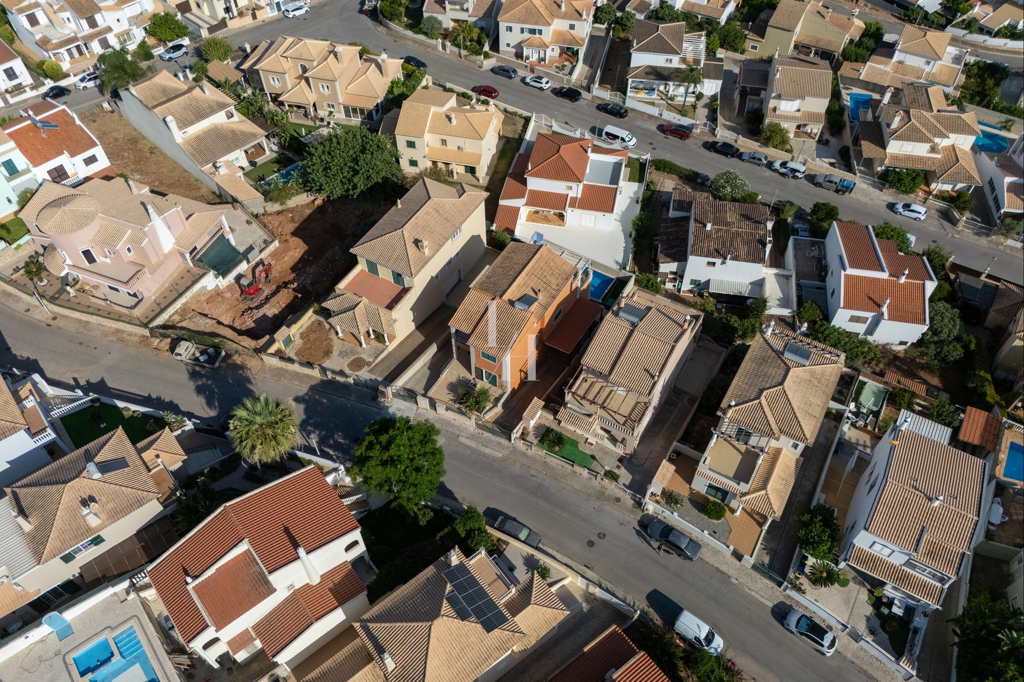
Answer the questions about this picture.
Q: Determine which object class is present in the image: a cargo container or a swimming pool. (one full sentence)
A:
The image shows a swimming pool.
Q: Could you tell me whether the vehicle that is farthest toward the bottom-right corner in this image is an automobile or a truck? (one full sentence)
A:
Specifically, the vehicle that is farthest toward the bottom-right corner is an automobile.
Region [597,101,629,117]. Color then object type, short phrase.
black car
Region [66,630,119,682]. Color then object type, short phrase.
blue swimming pool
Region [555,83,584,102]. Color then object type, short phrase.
black car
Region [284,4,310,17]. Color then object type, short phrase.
white vehicle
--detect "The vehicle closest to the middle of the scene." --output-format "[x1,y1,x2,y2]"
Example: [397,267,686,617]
[494,507,551,550]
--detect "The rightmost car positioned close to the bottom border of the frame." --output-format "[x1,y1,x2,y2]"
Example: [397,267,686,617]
[783,608,843,658]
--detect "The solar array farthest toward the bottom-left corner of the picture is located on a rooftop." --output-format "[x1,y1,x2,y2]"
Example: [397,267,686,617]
[442,563,514,634]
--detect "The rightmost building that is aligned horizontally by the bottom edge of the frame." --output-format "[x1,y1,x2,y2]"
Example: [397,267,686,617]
[545,623,670,682]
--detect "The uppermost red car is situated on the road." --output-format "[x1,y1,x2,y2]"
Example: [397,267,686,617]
[476,84,503,98]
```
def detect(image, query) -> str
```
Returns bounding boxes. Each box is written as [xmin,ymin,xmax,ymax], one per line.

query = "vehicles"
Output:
[893,201,931,220]
[597,101,629,117]
[210,417,234,440]
[645,517,704,561]
[783,608,843,658]
[494,507,551,550]
[662,122,695,140]
[168,339,222,370]
[159,43,188,60]
[772,158,808,178]
[669,602,729,655]
[706,139,742,157]
[602,123,638,149]
[404,52,430,69]
[238,273,273,310]
[73,71,102,90]
[476,84,503,98]
[284,4,310,17]
[555,83,584,102]
[493,64,519,78]
[40,83,72,98]
[813,172,857,194]
[524,74,552,90]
